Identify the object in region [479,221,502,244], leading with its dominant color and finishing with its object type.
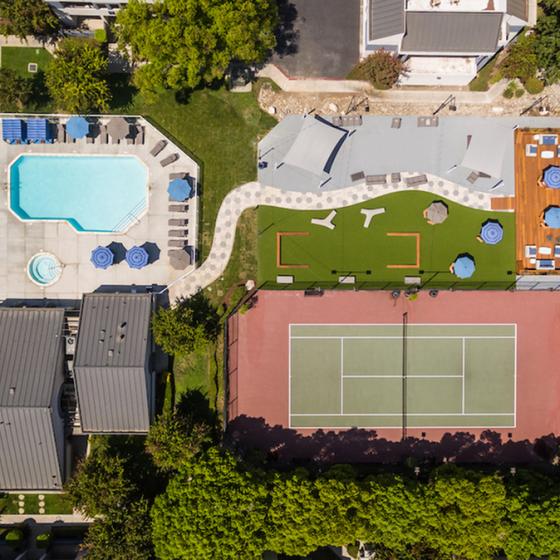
blue umbrella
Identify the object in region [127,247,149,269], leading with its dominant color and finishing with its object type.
blue umbrella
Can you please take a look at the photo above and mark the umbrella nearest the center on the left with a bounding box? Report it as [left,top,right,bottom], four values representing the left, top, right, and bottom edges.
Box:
[169,248,191,270]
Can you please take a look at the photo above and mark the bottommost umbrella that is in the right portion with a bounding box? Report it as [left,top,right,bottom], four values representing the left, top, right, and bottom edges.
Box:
[452,255,475,278]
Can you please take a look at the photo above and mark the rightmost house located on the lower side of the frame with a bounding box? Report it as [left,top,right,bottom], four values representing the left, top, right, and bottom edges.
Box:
[73,293,153,433]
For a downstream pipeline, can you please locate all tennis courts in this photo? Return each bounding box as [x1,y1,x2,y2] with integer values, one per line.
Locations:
[229,290,560,459]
